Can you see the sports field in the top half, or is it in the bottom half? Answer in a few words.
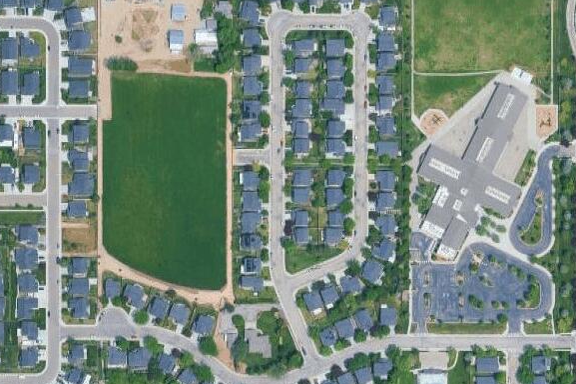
top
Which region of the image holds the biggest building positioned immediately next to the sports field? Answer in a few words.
right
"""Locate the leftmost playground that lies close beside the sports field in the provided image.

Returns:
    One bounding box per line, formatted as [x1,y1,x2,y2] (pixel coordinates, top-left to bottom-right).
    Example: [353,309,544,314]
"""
[421,107,450,136]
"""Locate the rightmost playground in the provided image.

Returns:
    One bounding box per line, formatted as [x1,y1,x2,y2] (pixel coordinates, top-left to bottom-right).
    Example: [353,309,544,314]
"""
[537,105,558,140]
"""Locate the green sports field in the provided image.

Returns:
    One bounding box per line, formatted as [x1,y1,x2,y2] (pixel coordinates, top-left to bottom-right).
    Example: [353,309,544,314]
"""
[412,0,554,118]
